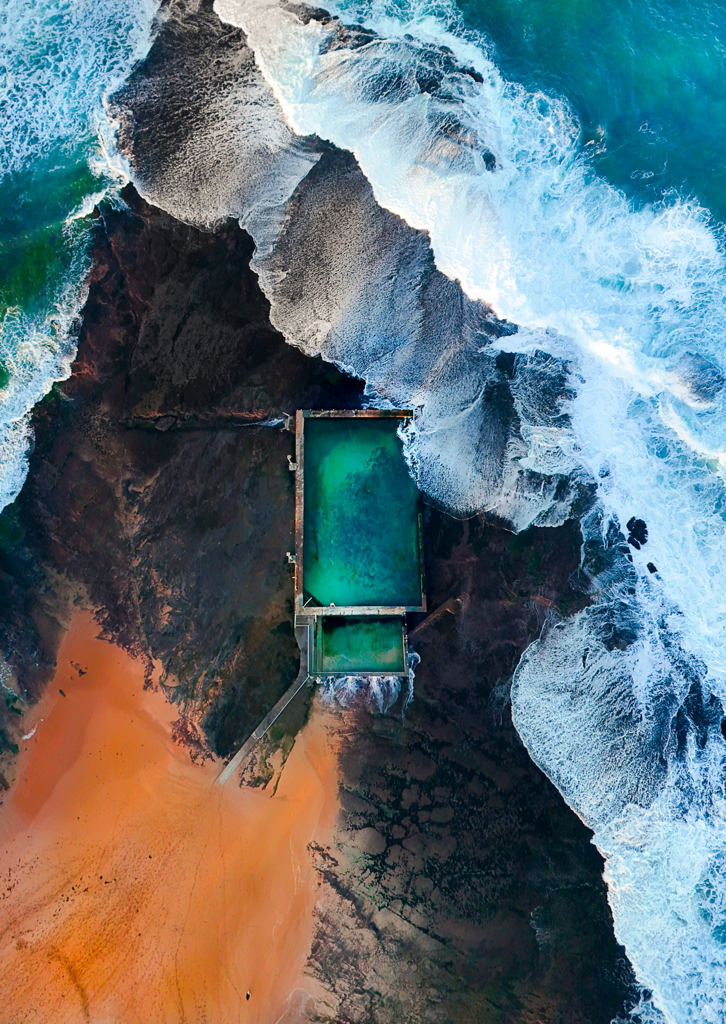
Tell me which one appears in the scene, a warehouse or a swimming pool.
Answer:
swimming pool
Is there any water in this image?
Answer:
Yes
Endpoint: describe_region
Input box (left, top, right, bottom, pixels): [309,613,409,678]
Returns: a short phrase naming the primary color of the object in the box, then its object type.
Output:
green swimming pool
